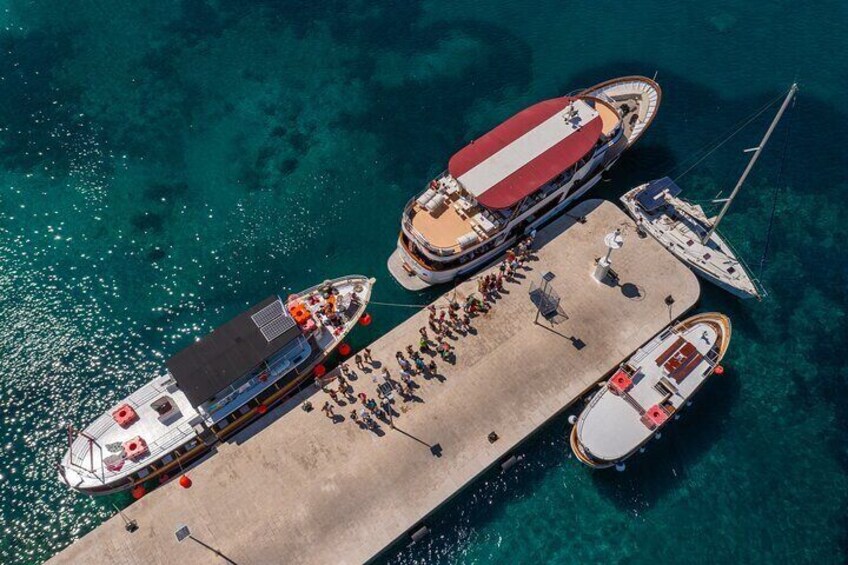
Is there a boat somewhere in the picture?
Yes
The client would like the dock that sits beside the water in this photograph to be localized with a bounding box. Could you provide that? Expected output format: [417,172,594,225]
[44,200,700,565]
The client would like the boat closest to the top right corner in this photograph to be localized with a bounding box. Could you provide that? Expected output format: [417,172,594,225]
[620,75,803,302]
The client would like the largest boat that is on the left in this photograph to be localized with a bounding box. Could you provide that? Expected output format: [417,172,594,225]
[55,275,378,498]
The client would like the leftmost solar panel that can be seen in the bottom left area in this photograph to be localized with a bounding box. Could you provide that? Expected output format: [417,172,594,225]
[175,518,194,539]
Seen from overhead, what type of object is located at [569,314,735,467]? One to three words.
boat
